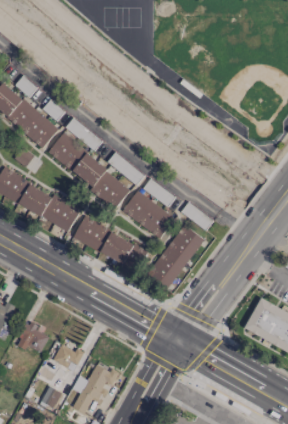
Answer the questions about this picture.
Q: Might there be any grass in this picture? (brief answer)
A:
Yes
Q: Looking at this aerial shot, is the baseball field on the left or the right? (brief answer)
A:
right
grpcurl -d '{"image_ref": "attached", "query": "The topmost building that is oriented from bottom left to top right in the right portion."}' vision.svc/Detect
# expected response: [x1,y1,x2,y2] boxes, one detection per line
[150,226,205,287]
